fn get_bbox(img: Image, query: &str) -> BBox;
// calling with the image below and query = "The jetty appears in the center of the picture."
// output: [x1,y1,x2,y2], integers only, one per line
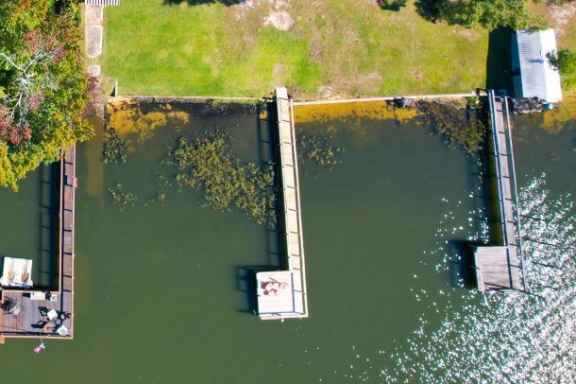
[253,87,310,319]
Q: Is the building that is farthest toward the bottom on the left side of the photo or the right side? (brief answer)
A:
right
